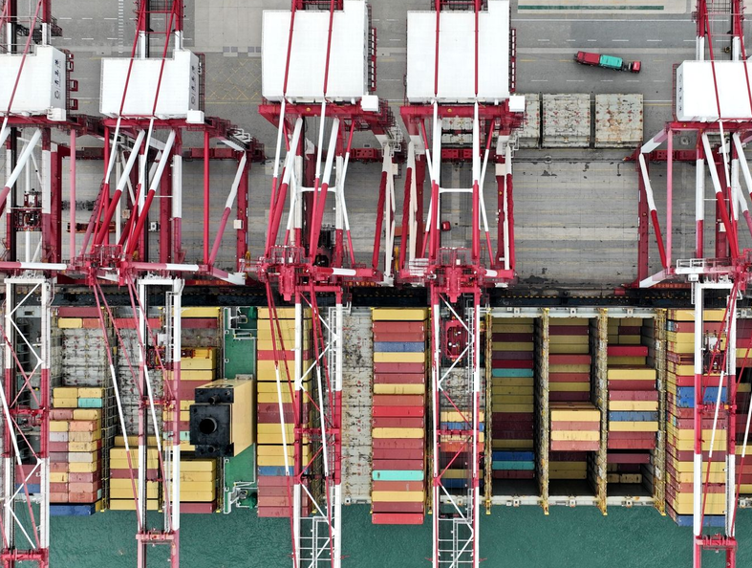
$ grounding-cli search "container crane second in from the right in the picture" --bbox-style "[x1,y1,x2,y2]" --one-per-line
[401,0,527,568]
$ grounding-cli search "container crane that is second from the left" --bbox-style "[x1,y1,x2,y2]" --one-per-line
[84,0,270,568]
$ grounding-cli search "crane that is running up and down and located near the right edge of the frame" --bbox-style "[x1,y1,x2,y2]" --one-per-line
[619,0,752,568]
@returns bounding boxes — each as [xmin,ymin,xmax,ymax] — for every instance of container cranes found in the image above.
[261,0,397,568]
[0,0,163,568]
[84,0,270,568]
[401,0,527,568]
[619,0,752,568]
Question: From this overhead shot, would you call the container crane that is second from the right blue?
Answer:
No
